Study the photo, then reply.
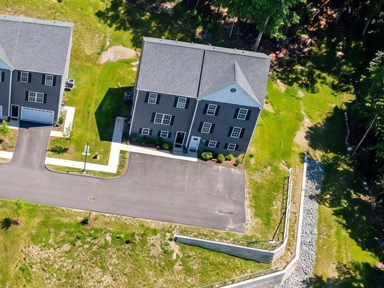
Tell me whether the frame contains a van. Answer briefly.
No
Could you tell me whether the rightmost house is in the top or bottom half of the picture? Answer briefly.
top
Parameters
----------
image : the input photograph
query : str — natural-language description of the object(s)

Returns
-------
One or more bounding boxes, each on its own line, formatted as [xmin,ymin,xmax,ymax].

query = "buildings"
[0,13,76,126]
[128,35,270,154]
